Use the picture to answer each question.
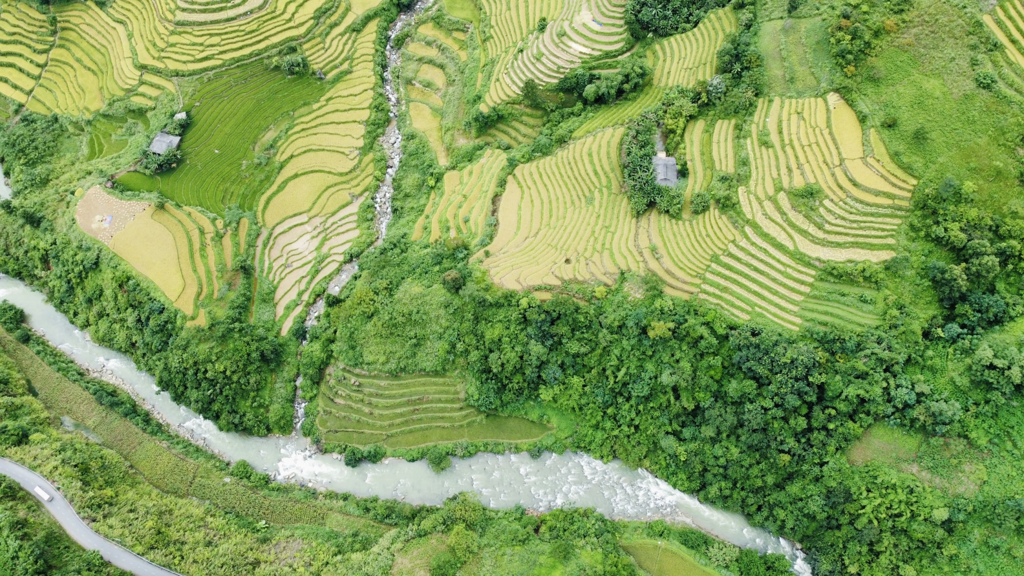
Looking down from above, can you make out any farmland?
Yes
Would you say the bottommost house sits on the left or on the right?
right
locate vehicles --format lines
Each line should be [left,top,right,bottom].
[33,486,52,504]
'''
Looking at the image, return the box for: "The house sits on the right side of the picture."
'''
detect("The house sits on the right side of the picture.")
[654,158,681,184]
